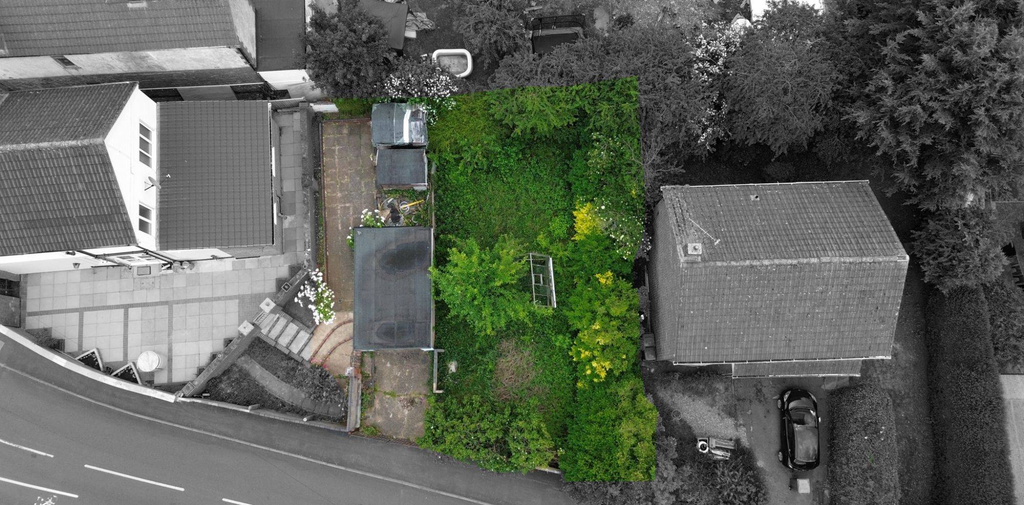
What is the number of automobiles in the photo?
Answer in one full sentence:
In total, 1 automobile can be seen.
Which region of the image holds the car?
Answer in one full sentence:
The car is in the bottom right part of the image.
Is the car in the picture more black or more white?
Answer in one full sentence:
From above, the car appears black.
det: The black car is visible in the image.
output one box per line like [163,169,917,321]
[776,388,826,475]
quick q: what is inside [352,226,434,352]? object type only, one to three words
building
